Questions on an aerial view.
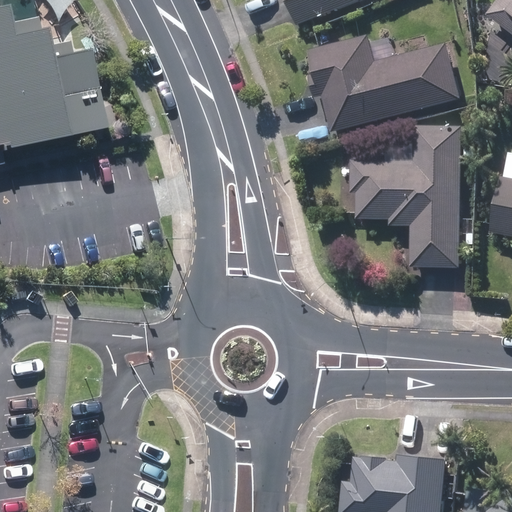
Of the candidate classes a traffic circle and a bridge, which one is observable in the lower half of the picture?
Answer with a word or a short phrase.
traffic circle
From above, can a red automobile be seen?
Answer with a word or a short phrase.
Yes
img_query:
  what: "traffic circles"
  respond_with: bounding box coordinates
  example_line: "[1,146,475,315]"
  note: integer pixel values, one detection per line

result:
[210,325,278,394]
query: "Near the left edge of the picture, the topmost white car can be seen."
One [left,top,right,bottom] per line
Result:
[10,360,44,375]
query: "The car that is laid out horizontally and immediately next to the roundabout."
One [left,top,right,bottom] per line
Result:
[212,390,246,408]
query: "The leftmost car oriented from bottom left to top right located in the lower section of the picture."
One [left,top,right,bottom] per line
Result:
[262,372,287,401]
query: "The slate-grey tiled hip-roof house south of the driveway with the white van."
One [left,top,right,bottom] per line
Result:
[338,456,444,512]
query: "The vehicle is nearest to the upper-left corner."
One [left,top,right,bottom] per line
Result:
[145,45,166,78]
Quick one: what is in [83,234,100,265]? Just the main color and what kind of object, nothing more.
blue car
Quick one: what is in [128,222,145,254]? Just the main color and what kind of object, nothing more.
white car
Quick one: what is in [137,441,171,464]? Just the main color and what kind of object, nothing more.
white car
